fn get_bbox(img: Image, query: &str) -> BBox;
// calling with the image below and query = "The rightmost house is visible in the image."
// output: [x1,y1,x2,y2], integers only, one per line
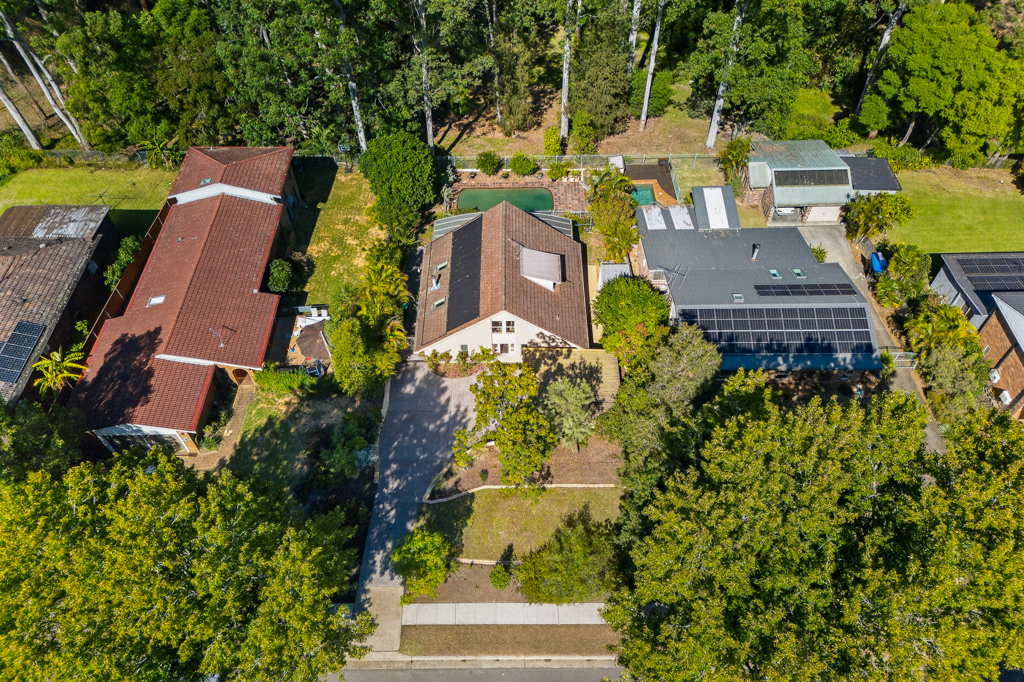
[930,254,1024,426]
